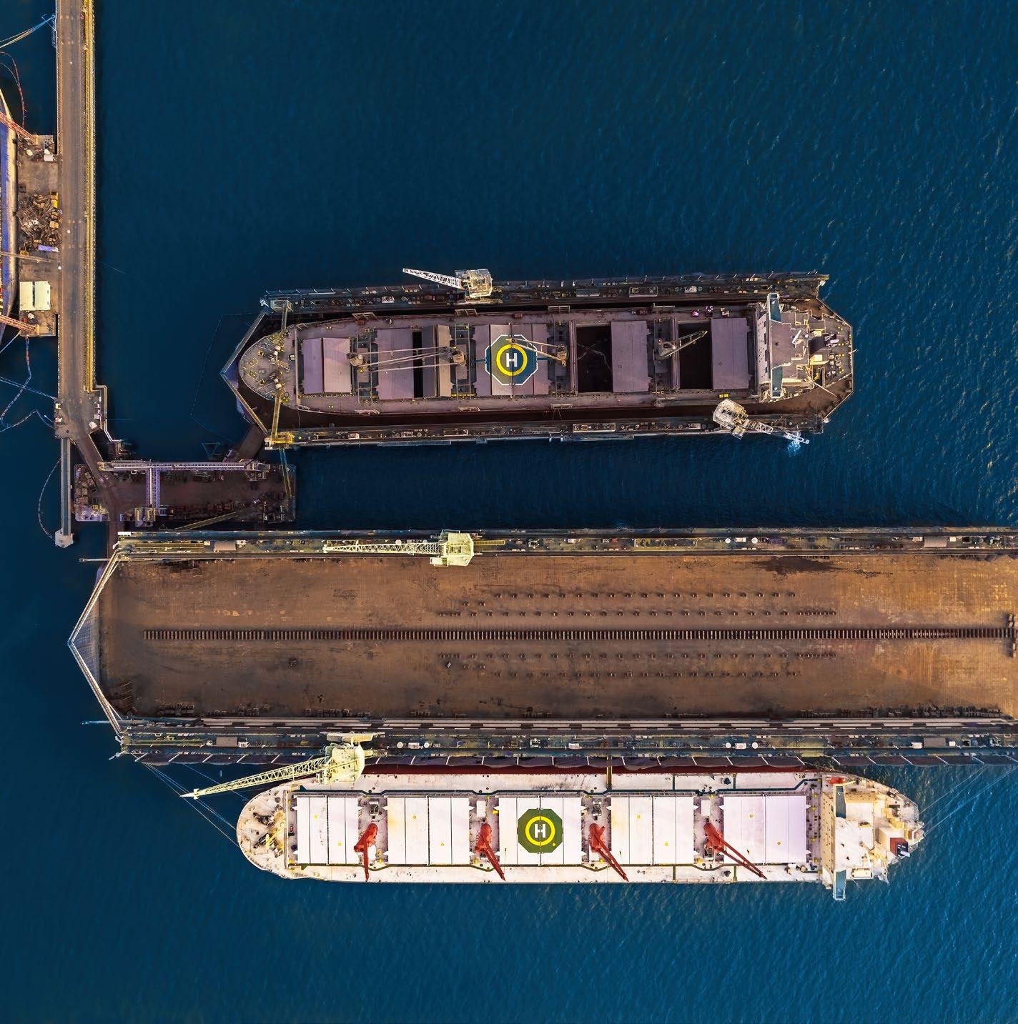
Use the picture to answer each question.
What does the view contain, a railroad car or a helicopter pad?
helicopter pad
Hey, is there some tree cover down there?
No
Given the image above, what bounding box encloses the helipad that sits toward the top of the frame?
[485,334,537,385]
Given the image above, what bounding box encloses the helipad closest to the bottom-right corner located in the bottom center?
[518,808,563,853]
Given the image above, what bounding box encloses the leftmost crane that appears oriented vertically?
[357,821,378,882]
